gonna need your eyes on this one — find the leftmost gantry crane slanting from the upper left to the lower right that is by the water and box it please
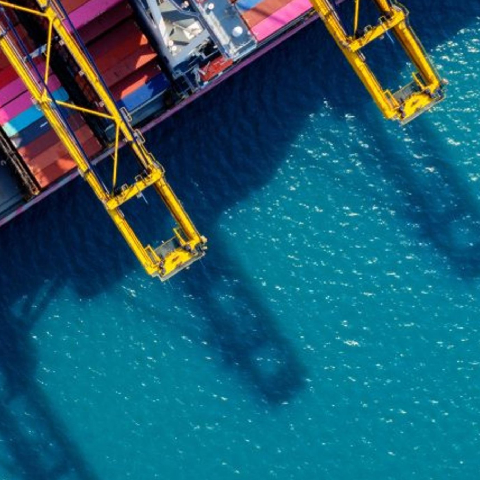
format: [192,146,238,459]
[0,0,207,286]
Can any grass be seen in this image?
No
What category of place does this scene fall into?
port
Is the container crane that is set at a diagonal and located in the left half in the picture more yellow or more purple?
yellow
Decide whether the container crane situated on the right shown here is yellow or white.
yellow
